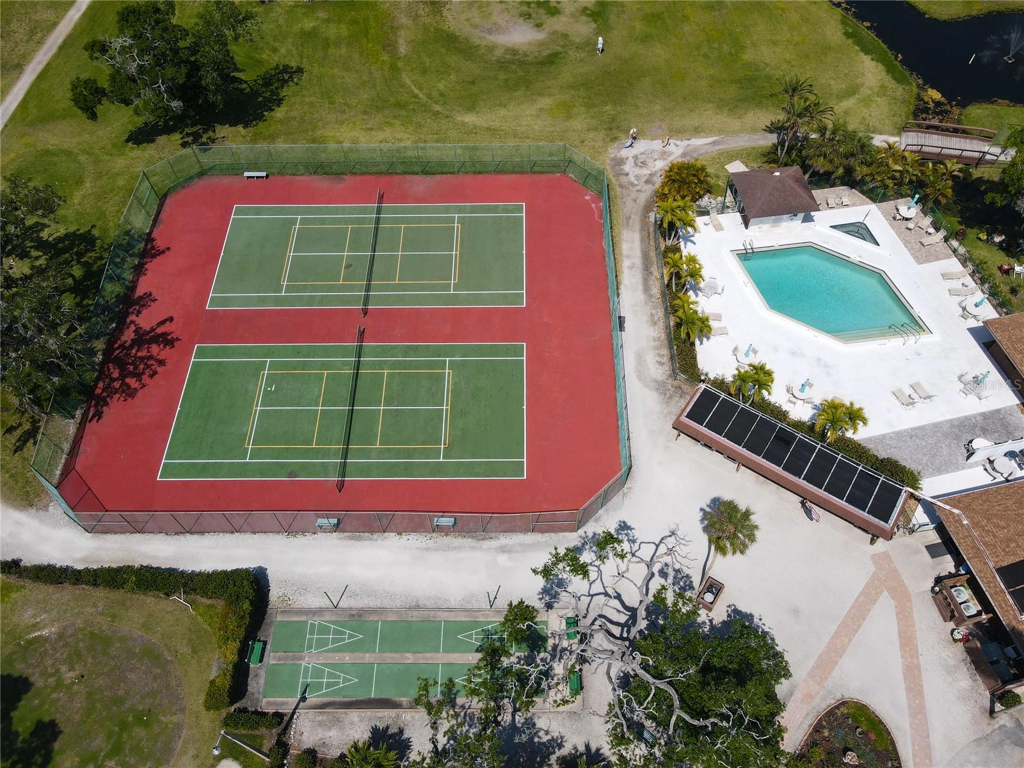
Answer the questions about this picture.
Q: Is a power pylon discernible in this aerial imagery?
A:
No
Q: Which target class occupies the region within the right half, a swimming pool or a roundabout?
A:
swimming pool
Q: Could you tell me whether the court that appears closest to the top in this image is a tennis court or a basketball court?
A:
tennis court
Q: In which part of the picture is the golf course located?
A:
top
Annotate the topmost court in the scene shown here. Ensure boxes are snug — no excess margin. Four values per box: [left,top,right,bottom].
[206,203,526,308]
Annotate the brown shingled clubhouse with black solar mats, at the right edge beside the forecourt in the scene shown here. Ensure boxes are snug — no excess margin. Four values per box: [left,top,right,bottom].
[909,477,1024,660]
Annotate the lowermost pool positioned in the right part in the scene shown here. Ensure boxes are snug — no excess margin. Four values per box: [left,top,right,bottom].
[731,241,933,343]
